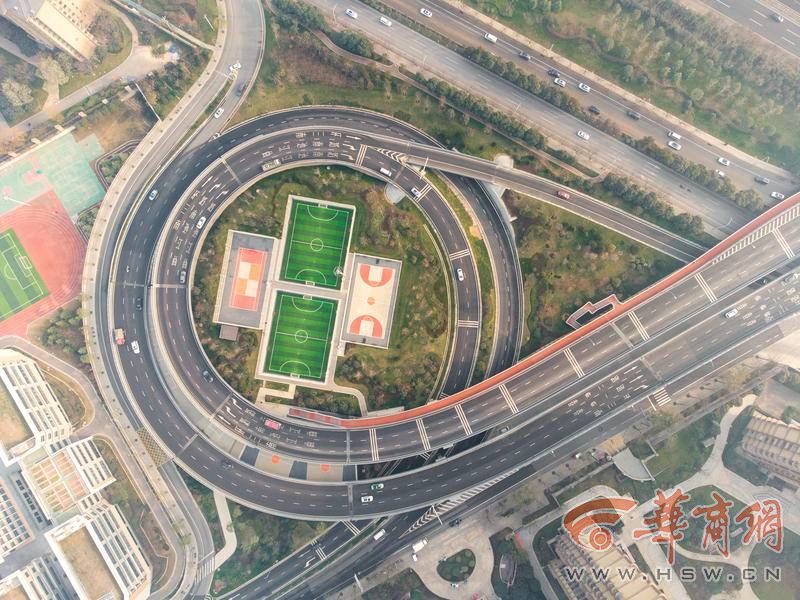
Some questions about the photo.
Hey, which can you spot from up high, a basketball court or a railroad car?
basketball court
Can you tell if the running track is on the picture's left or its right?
left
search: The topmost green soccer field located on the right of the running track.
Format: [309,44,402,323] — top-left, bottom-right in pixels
[279,199,353,292]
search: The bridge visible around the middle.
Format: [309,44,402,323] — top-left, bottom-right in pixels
[151,126,800,466]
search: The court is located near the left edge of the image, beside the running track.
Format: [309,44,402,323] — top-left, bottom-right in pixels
[0,133,112,214]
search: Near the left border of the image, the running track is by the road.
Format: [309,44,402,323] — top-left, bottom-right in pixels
[0,189,88,346]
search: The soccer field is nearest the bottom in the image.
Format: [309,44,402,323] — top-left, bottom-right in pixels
[264,291,338,382]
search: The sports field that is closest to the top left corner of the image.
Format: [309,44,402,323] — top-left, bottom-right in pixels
[0,229,48,320]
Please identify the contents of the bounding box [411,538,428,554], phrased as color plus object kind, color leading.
white vehicle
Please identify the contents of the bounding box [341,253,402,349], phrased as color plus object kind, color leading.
white basketball court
